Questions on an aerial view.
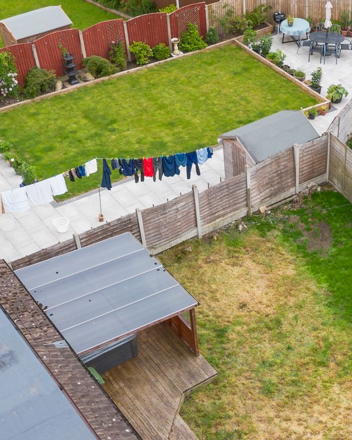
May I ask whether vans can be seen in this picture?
No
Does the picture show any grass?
Yes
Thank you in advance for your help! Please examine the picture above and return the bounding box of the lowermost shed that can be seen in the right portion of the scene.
[214,107,320,176]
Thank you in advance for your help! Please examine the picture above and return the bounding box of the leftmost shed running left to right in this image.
[0,11,84,50]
